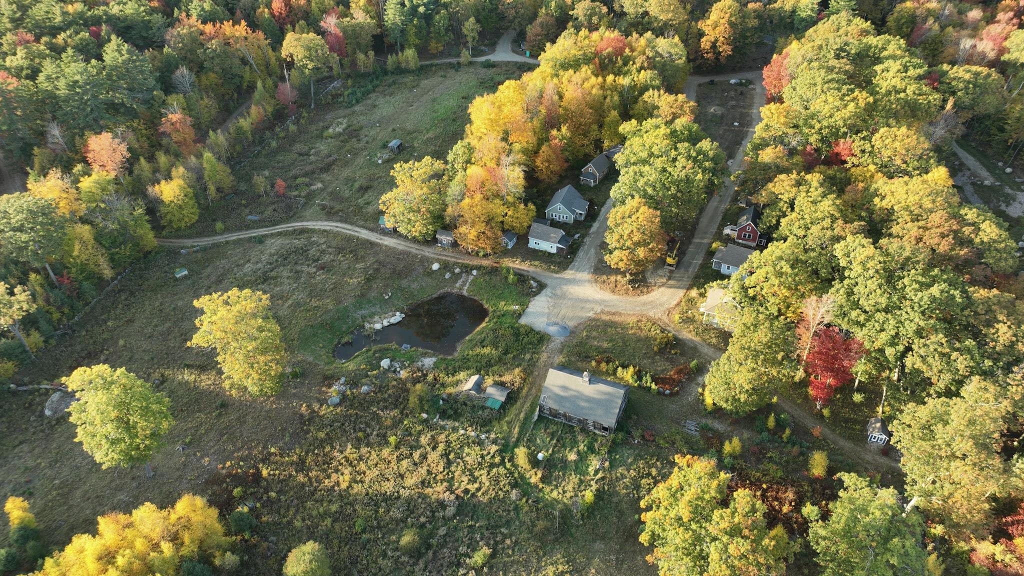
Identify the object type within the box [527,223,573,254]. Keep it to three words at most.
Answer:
house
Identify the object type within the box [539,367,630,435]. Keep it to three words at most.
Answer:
barn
